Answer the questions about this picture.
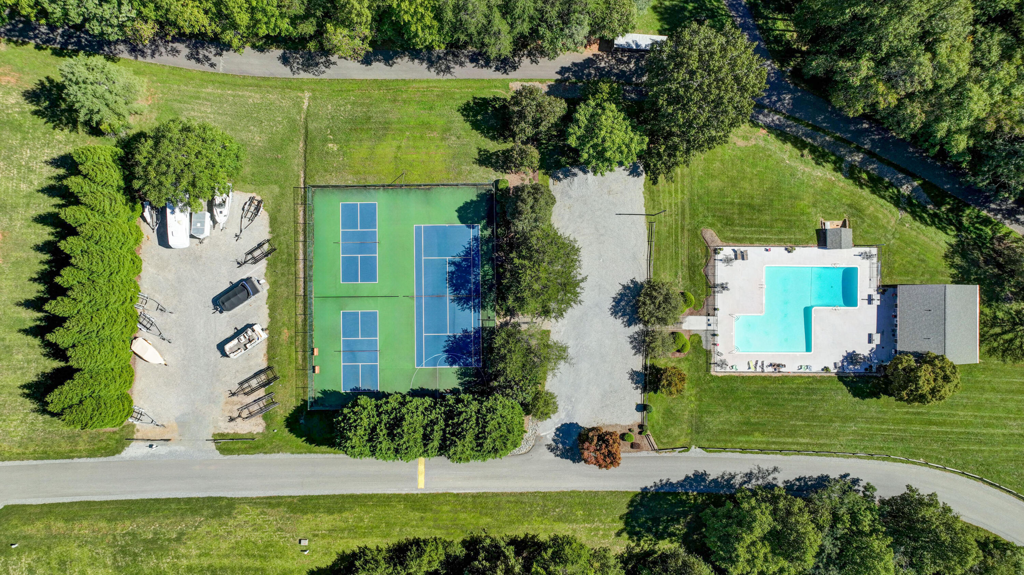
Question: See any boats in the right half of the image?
No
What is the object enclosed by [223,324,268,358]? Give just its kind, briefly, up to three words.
boat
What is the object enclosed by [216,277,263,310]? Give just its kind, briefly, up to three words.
boat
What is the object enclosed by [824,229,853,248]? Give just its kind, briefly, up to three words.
building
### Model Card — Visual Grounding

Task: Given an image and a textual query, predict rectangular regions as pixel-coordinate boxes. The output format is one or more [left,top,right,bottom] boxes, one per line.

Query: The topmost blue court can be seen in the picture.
[340,202,378,283]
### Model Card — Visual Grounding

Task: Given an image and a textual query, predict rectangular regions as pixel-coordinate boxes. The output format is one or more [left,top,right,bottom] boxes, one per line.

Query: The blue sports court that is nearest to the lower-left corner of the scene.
[341,310,379,392]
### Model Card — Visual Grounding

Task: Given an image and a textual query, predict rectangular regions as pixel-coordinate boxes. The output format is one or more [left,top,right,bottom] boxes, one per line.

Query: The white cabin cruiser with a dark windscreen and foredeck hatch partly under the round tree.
[215,184,234,233]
